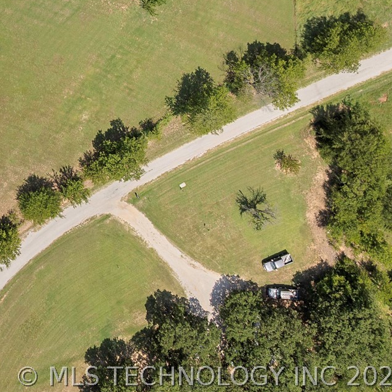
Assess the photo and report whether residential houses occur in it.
No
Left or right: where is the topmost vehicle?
right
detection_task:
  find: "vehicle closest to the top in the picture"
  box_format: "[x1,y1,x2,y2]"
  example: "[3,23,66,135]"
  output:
[262,251,293,271]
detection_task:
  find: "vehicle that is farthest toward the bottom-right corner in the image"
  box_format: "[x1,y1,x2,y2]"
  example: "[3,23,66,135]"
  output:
[265,286,299,301]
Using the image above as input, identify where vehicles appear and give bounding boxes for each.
[262,251,293,271]
[265,286,299,301]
